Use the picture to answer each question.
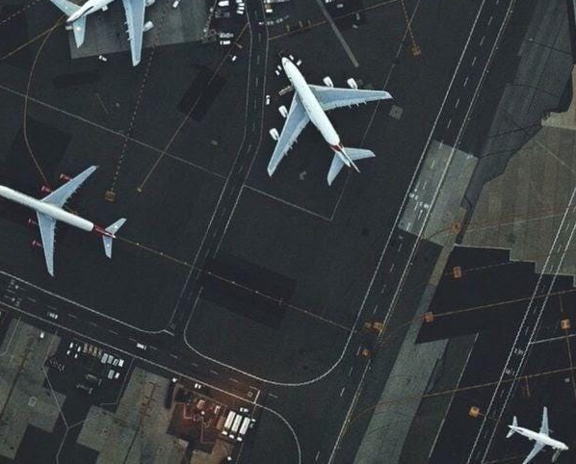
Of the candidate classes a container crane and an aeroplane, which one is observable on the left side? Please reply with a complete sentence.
There is an aeroplane on the left side.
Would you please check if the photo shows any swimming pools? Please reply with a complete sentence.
No, I find no swimming pool anywhere in the image.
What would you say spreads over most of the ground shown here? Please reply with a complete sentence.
For the most part, this view shows paved ground.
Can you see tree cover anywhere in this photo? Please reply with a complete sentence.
No, the scene doesn't show any tree cover.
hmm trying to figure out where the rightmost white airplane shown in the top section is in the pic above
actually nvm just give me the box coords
[269,57,396,187]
